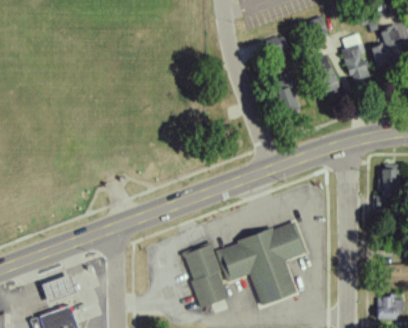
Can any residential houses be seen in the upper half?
Yes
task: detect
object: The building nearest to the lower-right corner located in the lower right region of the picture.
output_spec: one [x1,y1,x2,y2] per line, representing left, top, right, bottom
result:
[376,295,406,320]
